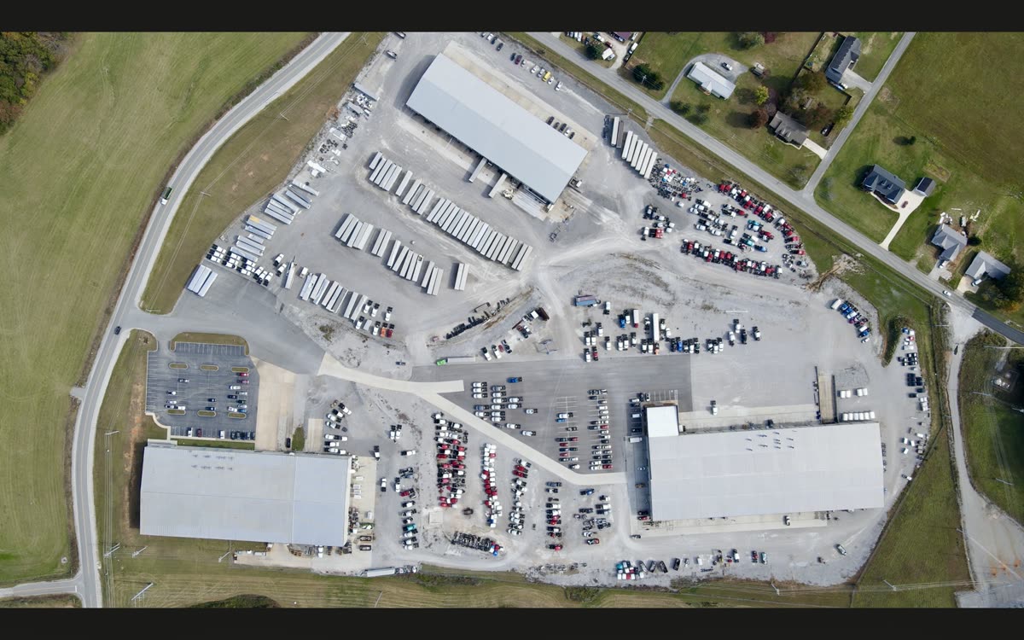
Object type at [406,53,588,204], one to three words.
warehouse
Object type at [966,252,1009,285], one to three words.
house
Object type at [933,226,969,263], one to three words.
house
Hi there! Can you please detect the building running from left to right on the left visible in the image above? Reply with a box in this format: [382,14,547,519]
[140,440,353,546]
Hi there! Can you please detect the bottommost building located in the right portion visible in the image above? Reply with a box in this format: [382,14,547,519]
[644,404,884,521]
